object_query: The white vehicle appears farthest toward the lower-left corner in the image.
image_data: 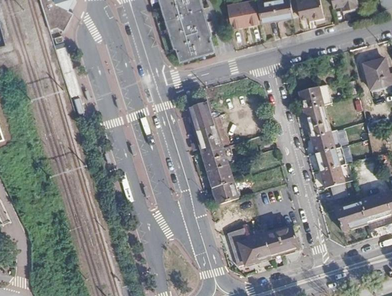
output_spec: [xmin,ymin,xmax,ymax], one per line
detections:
[120,176,134,202]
